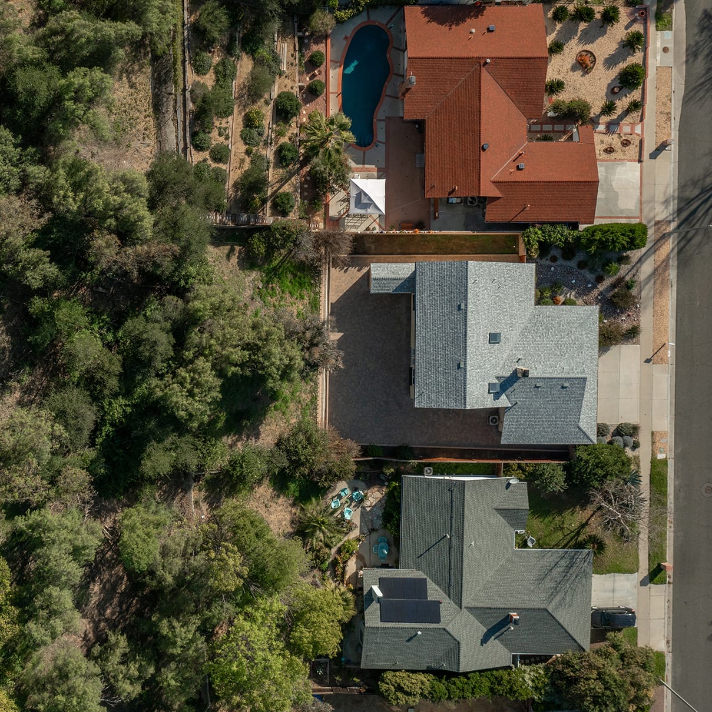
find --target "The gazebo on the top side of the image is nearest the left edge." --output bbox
[345,179,385,217]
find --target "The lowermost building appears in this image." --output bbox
[359,474,595,680]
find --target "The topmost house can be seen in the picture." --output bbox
[400,3,603,223]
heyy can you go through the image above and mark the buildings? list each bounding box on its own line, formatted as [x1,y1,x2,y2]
[359,474,595,680]
[400,3,603,223]
[366,260,599,445]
